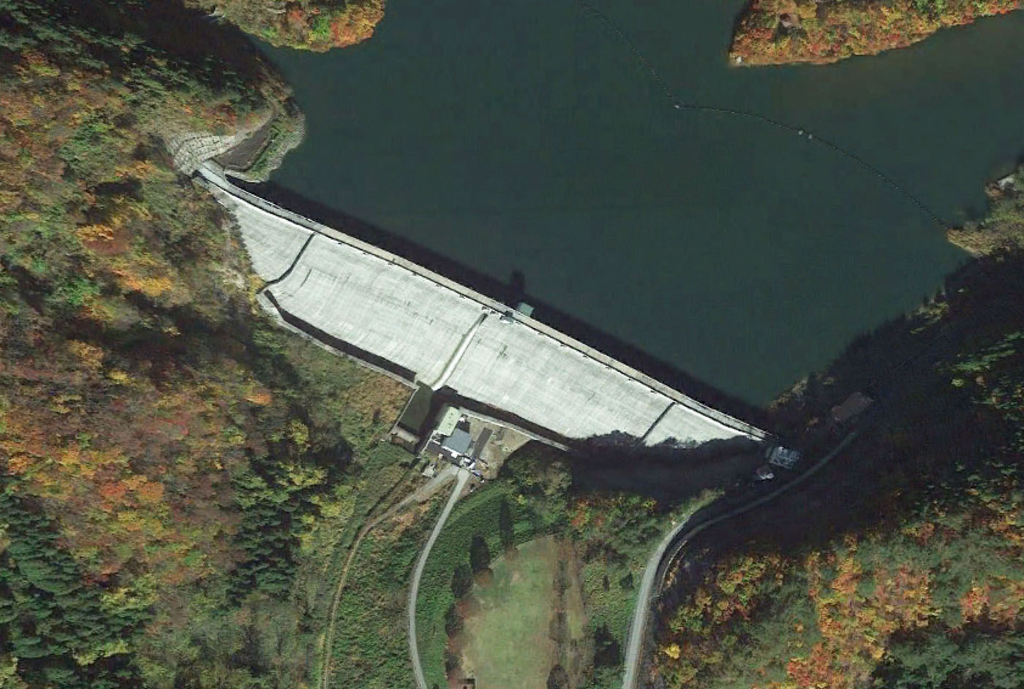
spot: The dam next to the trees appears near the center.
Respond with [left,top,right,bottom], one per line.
[195,159,783,456]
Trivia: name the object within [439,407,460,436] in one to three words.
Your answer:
building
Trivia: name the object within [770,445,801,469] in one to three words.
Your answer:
building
